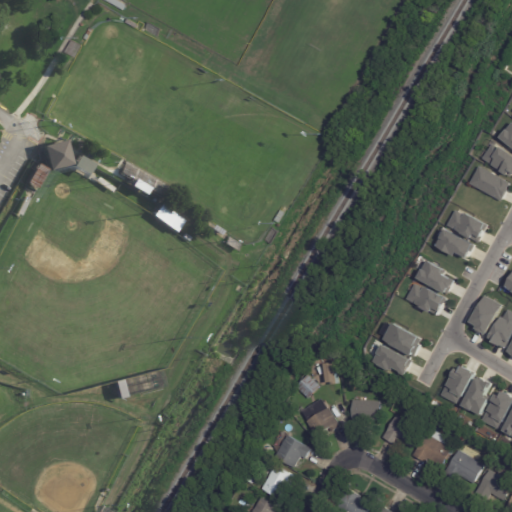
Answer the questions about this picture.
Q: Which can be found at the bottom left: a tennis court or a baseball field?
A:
baseball field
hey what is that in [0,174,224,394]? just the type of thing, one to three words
baseball field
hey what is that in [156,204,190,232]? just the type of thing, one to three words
building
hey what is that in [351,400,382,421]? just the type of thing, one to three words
house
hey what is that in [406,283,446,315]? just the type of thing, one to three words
house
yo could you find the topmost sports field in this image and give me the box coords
[128,0,273,64]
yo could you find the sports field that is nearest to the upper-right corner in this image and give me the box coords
[236,0,400,130]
